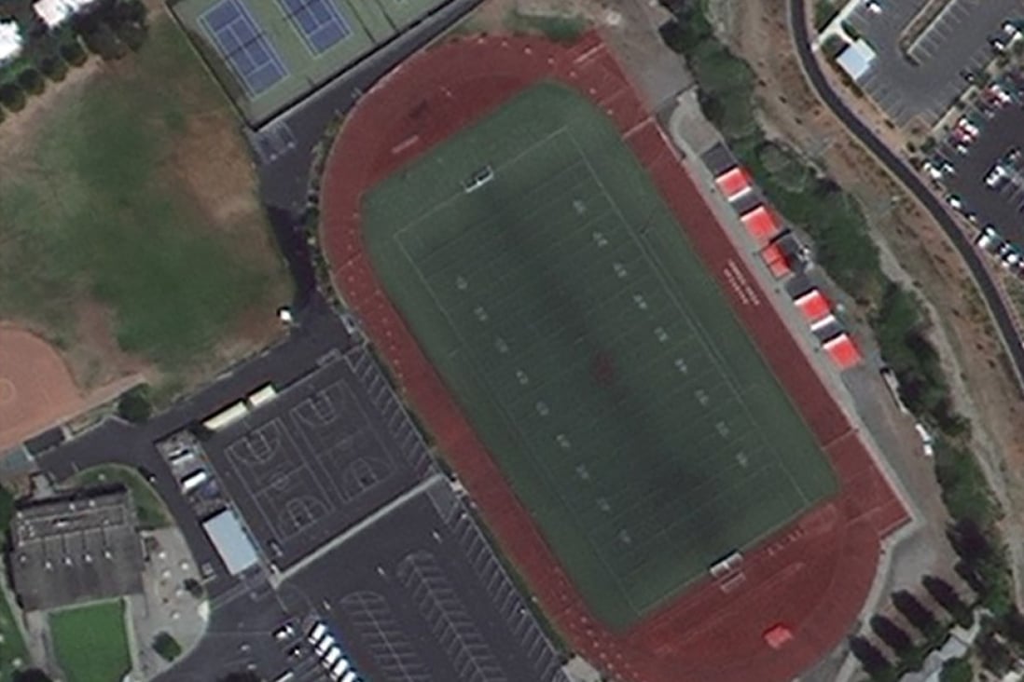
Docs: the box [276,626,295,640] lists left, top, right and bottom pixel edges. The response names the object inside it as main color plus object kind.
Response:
white car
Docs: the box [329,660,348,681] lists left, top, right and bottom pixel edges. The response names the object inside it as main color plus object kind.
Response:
white vehicle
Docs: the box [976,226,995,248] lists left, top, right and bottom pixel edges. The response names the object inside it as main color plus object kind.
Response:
white vehicle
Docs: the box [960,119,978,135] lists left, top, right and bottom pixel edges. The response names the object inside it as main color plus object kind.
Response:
white car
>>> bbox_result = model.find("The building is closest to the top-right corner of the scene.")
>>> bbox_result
[838,38,876,79]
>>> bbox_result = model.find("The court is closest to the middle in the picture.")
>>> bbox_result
[287,380,398,504]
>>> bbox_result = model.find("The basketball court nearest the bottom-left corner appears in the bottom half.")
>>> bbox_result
[221,417,336,545]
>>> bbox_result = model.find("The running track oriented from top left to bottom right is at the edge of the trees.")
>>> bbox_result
[319,28,914,682]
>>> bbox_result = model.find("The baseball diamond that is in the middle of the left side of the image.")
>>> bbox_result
[0,326,145,453]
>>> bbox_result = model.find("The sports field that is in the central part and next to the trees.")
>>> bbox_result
[360,80,840,634]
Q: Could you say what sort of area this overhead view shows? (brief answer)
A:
sports ground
